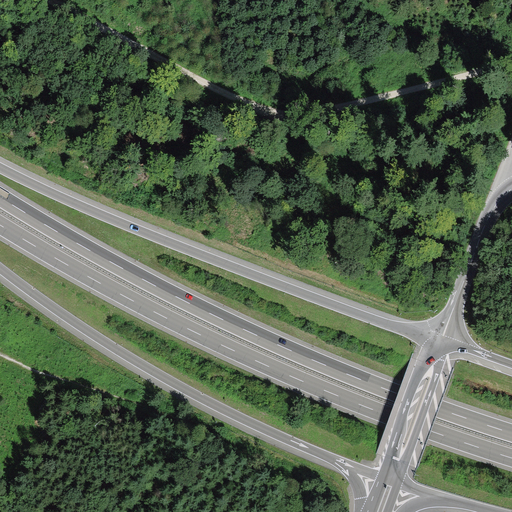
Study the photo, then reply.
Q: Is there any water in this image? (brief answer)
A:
No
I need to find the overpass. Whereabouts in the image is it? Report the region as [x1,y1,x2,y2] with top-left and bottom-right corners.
[375,346,456,476]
